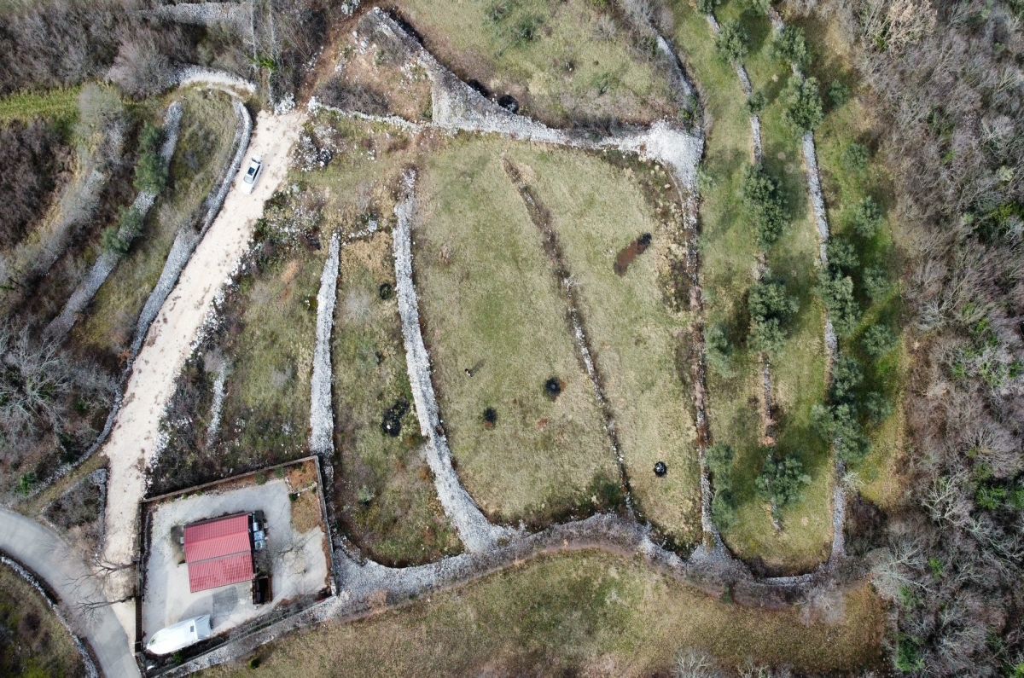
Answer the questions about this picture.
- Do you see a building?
Yes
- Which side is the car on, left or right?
left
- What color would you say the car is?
white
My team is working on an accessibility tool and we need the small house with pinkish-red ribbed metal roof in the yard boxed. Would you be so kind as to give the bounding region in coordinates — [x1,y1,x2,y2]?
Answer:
[182,513,259,595]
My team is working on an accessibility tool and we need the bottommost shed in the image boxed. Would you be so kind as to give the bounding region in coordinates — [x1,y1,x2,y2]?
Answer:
[252,572,278,605]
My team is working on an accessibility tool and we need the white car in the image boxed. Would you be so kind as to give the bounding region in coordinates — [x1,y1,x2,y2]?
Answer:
[239,155,264,195]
